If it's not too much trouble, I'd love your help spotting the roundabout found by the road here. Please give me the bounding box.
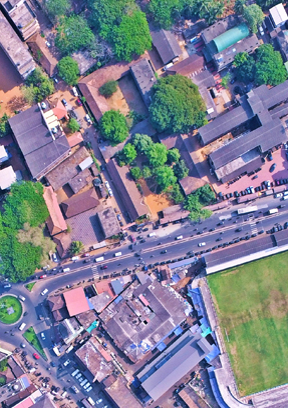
[0,279,39,338]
